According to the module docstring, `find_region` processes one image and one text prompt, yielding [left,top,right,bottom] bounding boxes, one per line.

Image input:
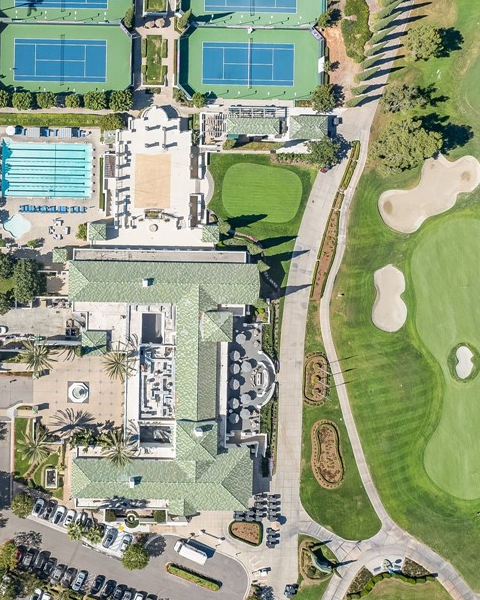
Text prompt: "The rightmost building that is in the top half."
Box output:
[286,115,329,139]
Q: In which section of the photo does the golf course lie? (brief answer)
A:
right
